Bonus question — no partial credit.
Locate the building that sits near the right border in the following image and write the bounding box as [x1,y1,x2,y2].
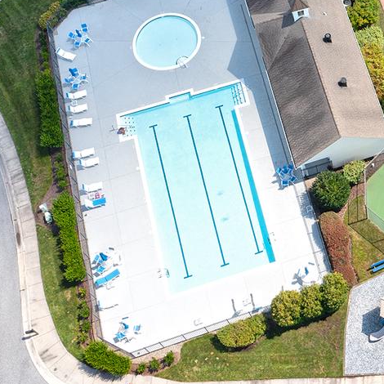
[244,0,384,178]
